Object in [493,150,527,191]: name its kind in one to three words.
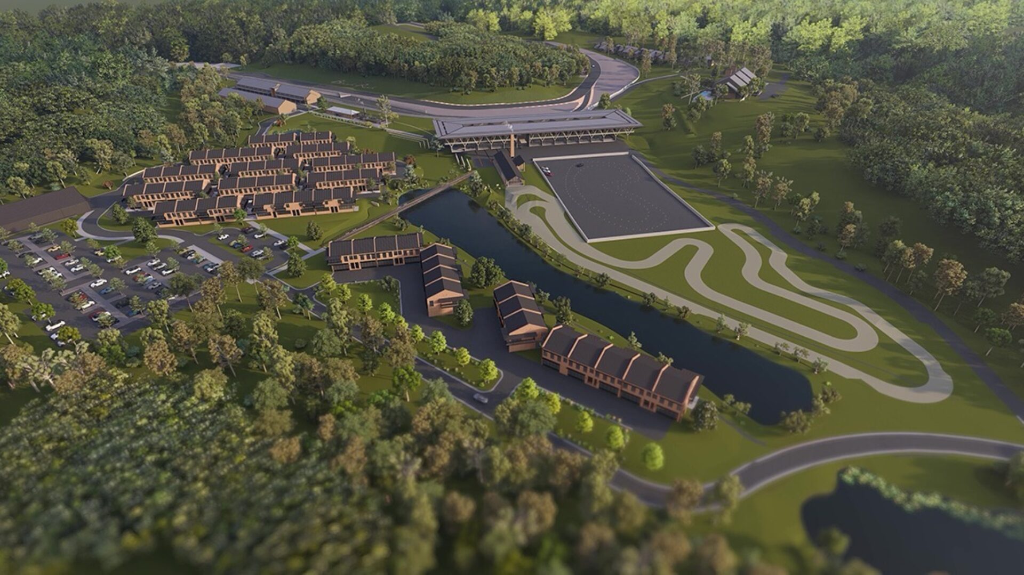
building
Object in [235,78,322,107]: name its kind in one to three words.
building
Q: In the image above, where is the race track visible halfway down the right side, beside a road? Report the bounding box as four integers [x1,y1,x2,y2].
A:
[534,201,962,406]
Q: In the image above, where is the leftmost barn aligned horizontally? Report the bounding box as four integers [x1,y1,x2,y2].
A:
[0,189,92,237]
